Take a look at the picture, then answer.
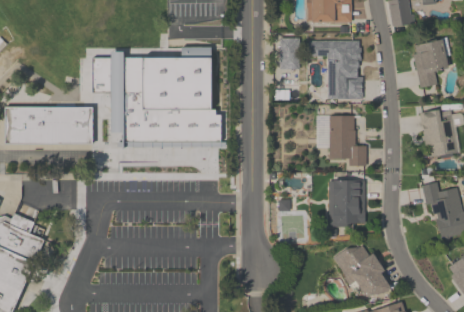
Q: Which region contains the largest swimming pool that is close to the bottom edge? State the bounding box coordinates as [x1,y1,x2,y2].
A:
[327,282,348,300]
